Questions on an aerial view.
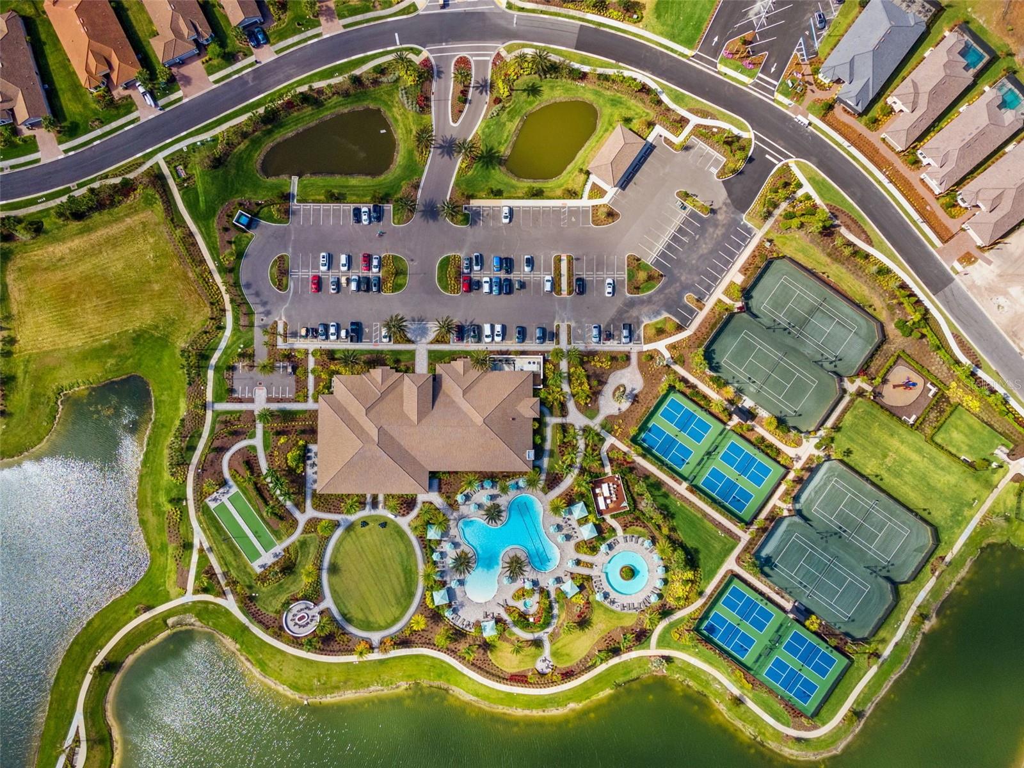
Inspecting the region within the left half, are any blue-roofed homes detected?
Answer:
No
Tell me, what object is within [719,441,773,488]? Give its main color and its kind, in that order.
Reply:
blue sports court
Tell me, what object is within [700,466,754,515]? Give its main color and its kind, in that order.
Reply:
blue sports court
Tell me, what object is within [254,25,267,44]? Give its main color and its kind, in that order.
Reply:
blue vehicle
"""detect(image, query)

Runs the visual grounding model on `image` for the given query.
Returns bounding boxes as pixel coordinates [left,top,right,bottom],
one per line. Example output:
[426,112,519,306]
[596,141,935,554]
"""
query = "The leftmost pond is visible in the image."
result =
[259,107,398,179]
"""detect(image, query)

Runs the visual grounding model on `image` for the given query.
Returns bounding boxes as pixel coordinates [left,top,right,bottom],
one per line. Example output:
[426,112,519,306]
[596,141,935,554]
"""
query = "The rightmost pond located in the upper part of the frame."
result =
[506,100,598,180]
